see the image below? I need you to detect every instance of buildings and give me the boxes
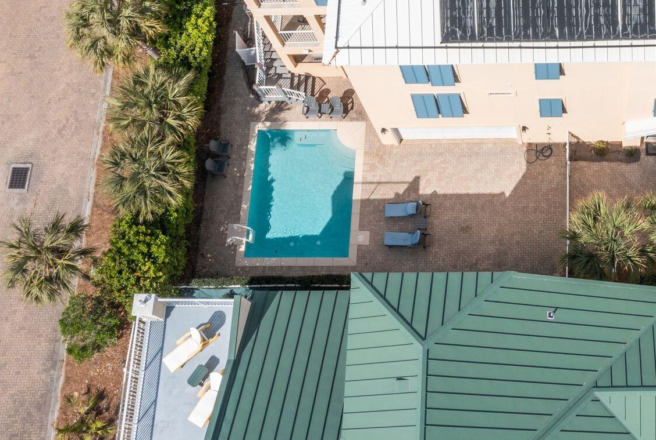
[120,268,656,440]
[241,0,656,149]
